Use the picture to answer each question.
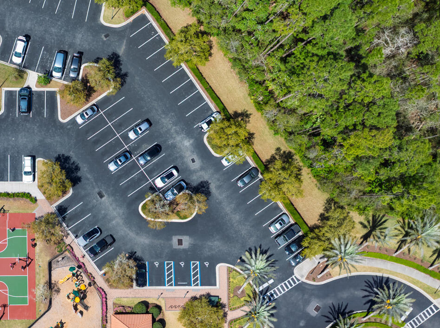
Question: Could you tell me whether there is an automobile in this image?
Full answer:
Yes, an automobile appears in the view.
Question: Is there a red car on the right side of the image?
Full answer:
No, I can find no red car on the right side of the image.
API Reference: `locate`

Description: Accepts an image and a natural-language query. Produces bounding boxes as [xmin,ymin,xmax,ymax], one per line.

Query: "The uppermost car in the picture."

[13,36,26,61]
